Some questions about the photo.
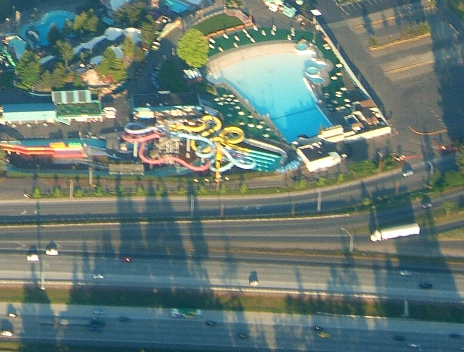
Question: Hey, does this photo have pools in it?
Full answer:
Yes, there's a pool down there.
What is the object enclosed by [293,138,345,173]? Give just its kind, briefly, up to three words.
building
